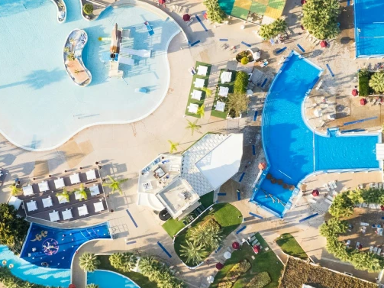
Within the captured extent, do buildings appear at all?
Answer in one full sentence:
Yes, looking at the shot, I can spot a building.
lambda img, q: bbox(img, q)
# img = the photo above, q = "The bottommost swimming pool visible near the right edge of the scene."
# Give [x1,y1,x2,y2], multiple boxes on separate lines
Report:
[249,49,383,219]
